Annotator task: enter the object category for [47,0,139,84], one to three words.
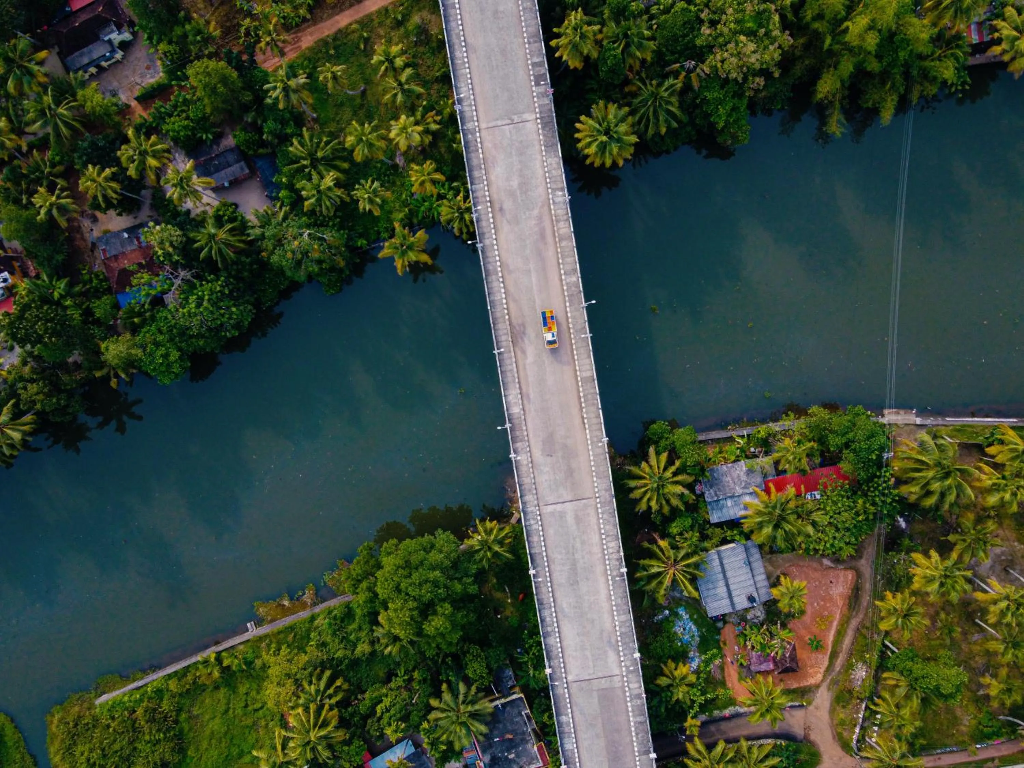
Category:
house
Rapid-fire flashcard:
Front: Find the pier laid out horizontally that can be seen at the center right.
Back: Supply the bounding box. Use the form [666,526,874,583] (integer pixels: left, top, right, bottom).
[879,406,916,424]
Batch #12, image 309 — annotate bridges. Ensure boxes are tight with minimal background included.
[438,0,656,768]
